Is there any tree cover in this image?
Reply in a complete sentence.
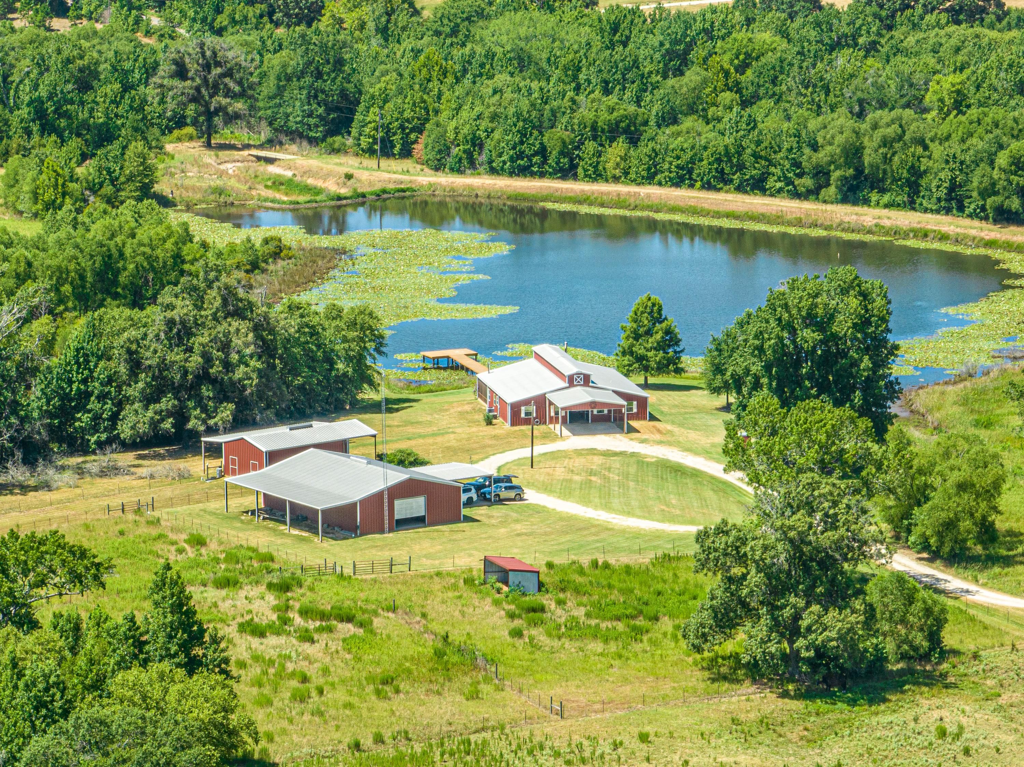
Yes, some tree cover is visible.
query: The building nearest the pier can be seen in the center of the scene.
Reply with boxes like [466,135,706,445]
[475,337,651,436]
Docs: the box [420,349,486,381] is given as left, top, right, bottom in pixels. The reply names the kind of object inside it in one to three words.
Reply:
pier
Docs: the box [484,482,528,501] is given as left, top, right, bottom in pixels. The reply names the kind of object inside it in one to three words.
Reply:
car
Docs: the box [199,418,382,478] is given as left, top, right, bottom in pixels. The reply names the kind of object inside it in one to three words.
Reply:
shed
